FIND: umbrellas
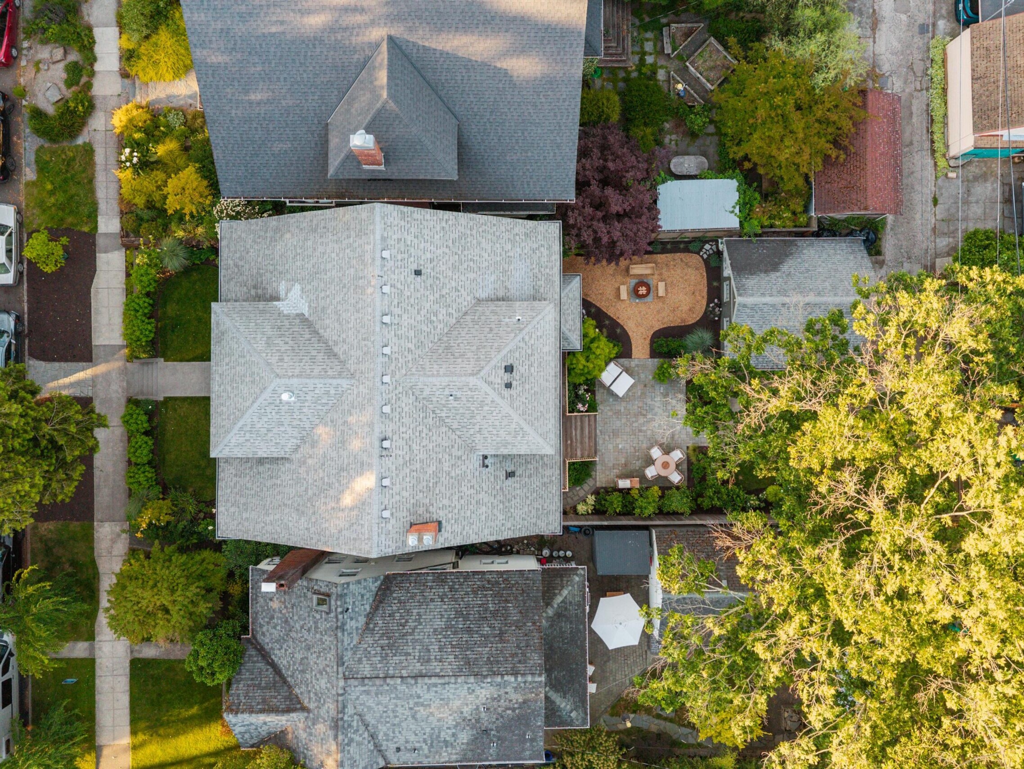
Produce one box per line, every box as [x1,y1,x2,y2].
[591,593,645,649]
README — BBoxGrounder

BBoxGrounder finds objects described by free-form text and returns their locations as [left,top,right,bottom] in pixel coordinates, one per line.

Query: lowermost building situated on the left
[222,548,589,769]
